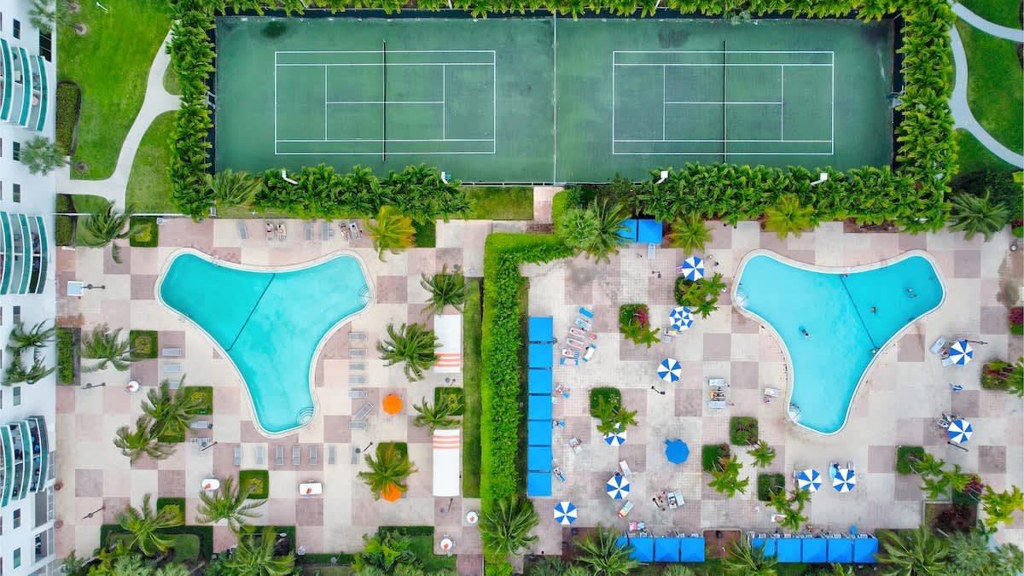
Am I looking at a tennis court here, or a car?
tennis court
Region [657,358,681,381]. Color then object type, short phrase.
white umbrella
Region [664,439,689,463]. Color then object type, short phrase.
blue umbrella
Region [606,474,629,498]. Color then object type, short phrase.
white umbrella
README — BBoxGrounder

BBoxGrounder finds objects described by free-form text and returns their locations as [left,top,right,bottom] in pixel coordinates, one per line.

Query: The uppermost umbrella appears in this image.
[680,256,704,280]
